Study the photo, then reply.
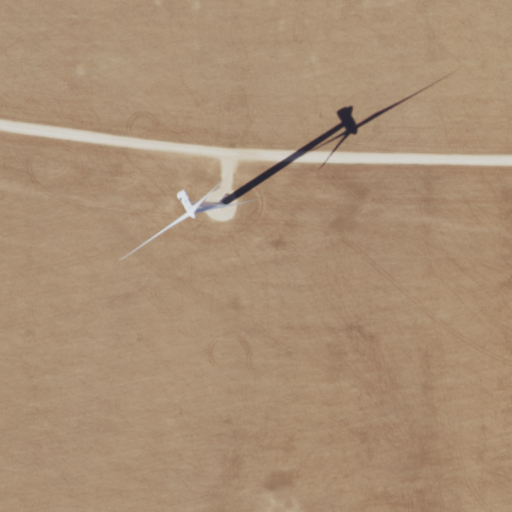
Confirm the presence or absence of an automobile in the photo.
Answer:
No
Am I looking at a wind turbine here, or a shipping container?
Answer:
wind turbine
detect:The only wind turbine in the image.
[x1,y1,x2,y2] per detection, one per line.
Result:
[118,182,257,260]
